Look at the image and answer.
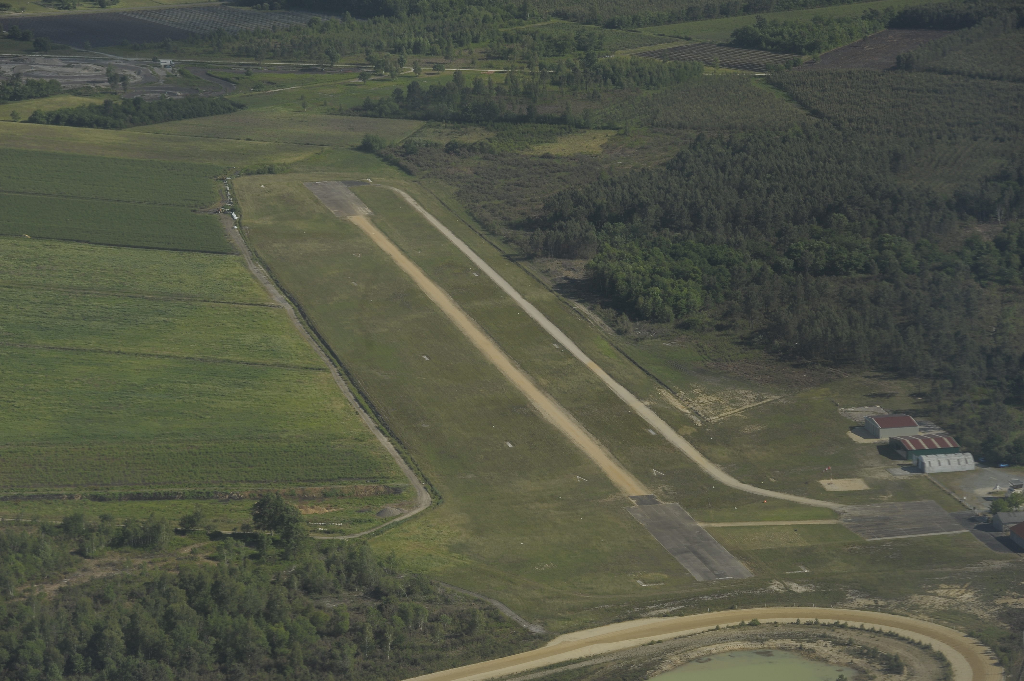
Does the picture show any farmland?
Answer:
Yes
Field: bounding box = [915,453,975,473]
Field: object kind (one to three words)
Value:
shed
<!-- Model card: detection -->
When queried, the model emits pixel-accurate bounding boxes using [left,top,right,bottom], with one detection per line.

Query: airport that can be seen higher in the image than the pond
[261,178,1024,586]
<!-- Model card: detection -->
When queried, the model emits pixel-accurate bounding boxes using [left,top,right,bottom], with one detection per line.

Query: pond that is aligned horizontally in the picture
[648,649,857,681]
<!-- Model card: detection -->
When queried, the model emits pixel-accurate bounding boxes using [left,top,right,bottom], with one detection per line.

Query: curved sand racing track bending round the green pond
[403,607,1005,681]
